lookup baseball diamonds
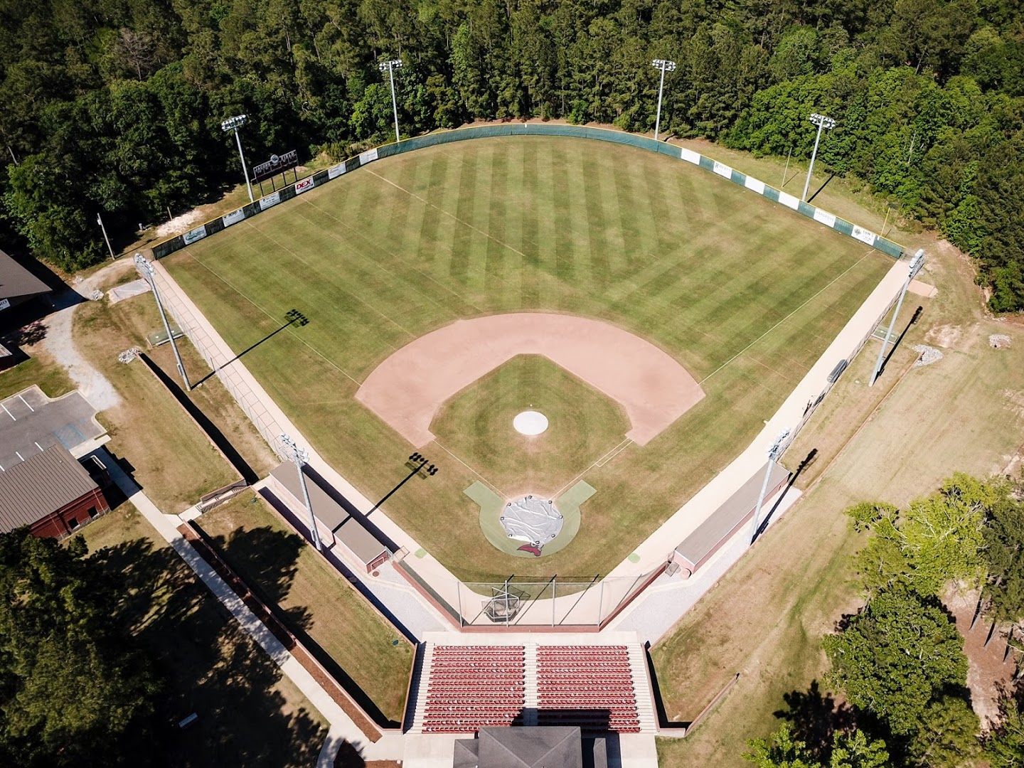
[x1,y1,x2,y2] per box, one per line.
[136,135,919,624]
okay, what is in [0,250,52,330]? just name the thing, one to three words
building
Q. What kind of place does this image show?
sports ground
